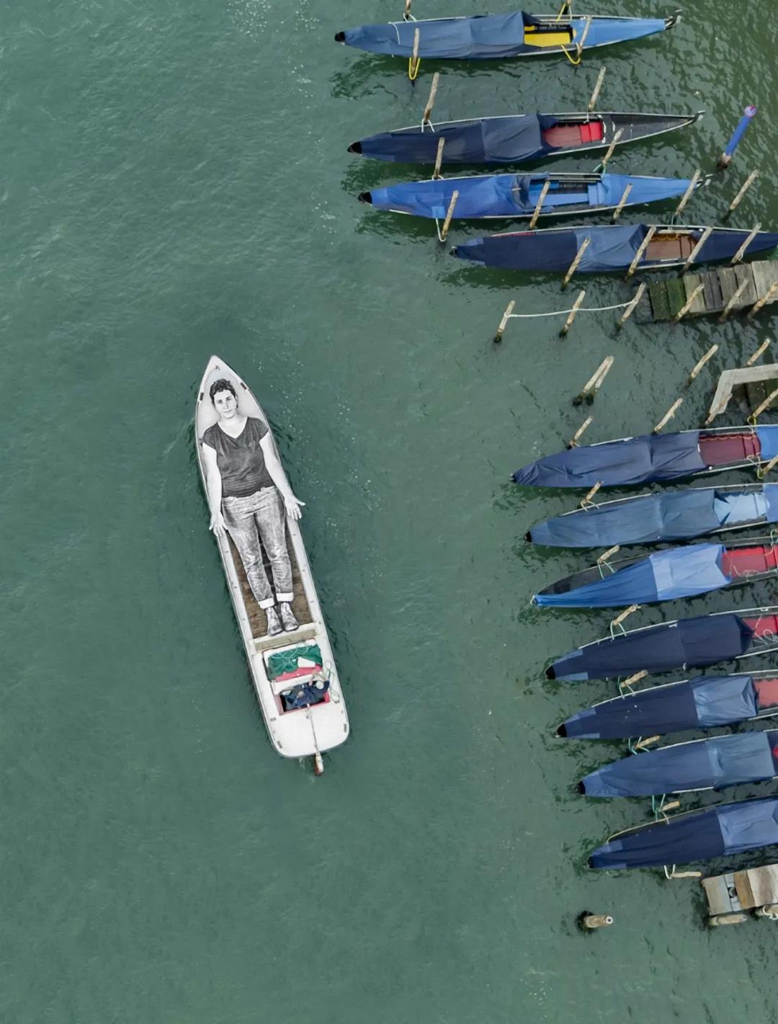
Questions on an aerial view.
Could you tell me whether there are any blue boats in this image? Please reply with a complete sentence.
Yes, looking at the shot, I can spot a blue boat.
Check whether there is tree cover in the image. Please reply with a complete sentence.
No, no tree cover is visible.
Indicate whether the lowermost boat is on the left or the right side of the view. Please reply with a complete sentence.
You can find the lowermost boat on the right side of the picture.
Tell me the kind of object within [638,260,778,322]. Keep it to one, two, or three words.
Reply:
pier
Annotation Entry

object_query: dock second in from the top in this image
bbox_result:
[735,379,778,412]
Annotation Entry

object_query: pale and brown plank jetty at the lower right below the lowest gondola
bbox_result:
[702,862,778,915]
